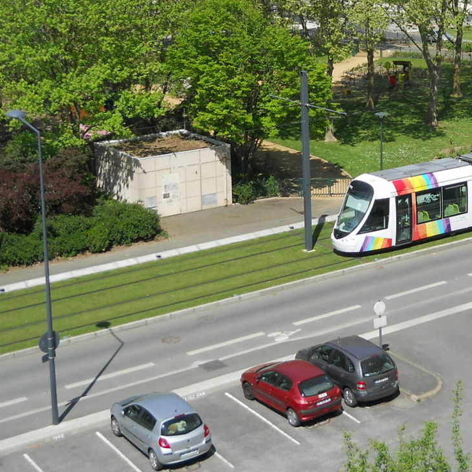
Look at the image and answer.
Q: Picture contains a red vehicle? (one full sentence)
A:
Yes, a red vehicle appears in the view.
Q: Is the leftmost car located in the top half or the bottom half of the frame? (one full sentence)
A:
The leftmost car sits in the bottom half of the picture.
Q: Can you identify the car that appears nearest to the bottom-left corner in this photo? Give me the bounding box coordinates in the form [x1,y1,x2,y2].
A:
[110,389,219,470]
